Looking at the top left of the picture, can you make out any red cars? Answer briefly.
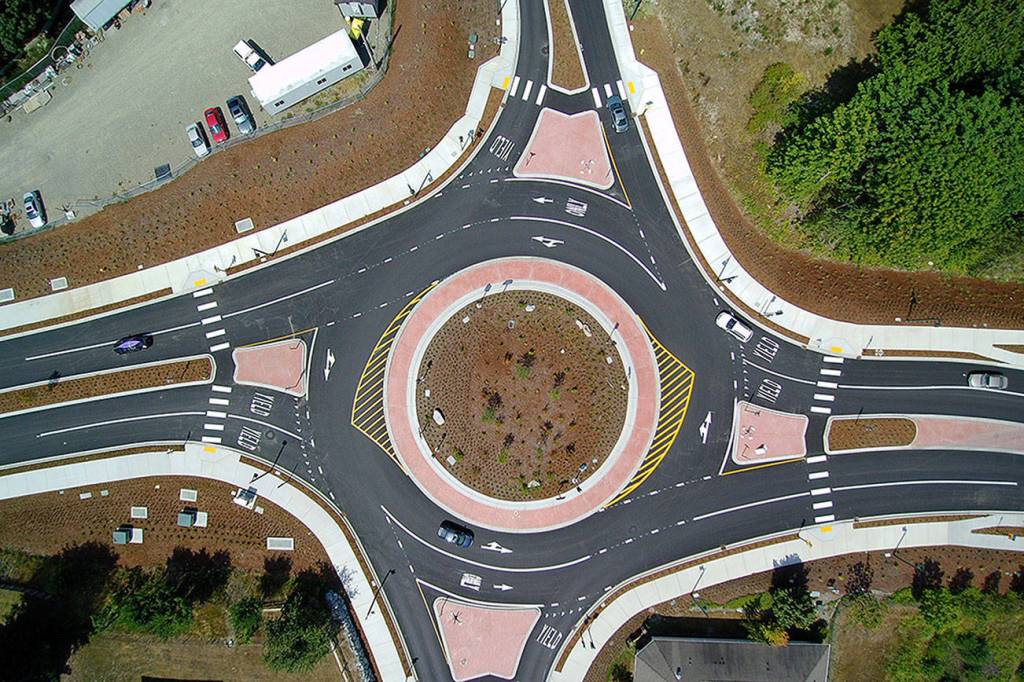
Yes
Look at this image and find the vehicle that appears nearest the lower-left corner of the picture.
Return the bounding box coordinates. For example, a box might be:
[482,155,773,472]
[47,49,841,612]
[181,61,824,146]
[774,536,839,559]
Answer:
[112,334,150,354]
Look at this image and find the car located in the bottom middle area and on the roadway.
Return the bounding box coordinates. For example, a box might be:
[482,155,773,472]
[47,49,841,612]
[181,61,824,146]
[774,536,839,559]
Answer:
[437,524,474,548]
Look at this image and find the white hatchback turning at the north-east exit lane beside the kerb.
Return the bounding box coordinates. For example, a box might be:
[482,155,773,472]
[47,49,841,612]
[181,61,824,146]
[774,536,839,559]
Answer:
[716,313,754,342]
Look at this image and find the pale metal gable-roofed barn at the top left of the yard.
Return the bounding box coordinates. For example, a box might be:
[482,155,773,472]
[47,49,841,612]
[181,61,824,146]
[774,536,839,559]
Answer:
[71,0,133,40]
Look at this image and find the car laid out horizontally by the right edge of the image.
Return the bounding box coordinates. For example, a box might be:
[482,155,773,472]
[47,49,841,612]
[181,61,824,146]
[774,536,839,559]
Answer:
[967,373,1010,390]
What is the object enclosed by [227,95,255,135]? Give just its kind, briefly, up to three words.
car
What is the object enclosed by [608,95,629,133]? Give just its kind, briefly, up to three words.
car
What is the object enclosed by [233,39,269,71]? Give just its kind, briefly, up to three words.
truck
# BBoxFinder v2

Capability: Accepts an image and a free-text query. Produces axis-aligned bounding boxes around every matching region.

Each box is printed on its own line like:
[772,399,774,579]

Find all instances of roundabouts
[383,256,661,533]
